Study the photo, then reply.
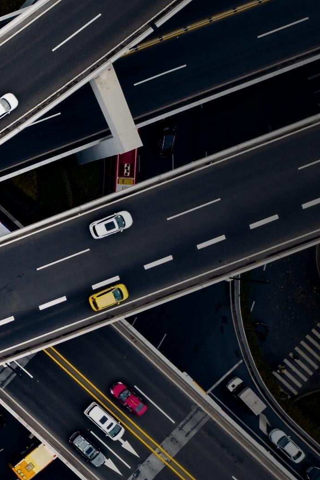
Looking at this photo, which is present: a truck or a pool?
truck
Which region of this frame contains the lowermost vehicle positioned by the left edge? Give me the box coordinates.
[7,438,57,480]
